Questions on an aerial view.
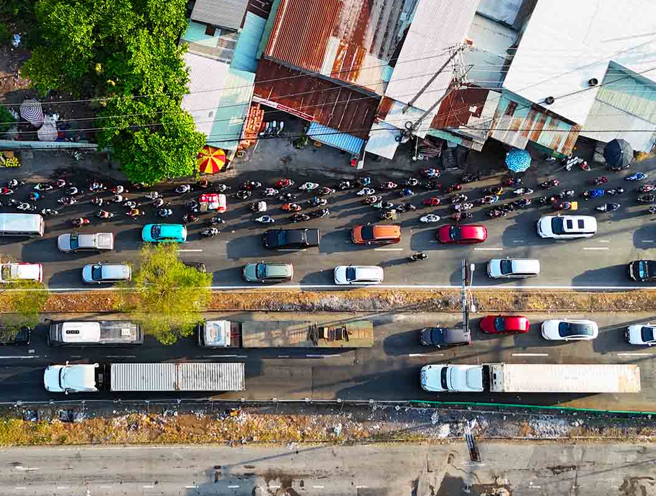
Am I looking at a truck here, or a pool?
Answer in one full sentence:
The one in the frame is a truck.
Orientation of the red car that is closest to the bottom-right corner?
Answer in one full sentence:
The red car that is closest to the bottom-right corner is oriented from side to side.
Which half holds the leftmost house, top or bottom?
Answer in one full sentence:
Seen from above, the leftmost house lies in the top half of the view.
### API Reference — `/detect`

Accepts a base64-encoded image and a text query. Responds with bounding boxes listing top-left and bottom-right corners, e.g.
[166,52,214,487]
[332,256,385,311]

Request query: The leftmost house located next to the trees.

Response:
[180,0,268,162]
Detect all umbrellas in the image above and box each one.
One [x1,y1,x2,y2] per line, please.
[601,143,633,169]
[198,148,226,173]
[20,100,43,123]
[504,149,530,172]
[36,121,57,141]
